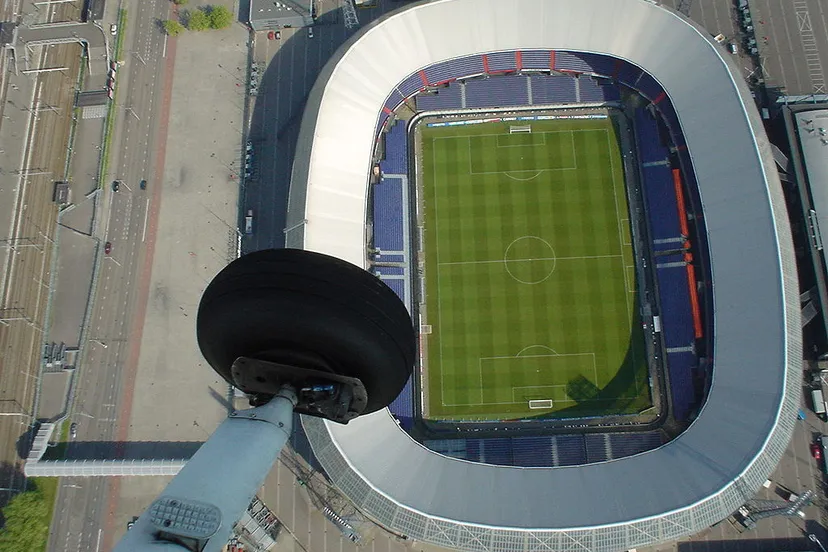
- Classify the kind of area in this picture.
sports ground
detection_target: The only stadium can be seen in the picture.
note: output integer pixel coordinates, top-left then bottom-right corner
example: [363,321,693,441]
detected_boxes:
[285,0,805,552]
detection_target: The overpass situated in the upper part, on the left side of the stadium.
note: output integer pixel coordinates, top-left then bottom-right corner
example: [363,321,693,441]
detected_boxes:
[12,19,109,91]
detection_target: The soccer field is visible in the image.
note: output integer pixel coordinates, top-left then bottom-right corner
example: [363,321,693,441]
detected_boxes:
[416,119,654,419]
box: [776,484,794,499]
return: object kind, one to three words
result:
vehicle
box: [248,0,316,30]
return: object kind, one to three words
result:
building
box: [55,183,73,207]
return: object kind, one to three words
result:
shed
